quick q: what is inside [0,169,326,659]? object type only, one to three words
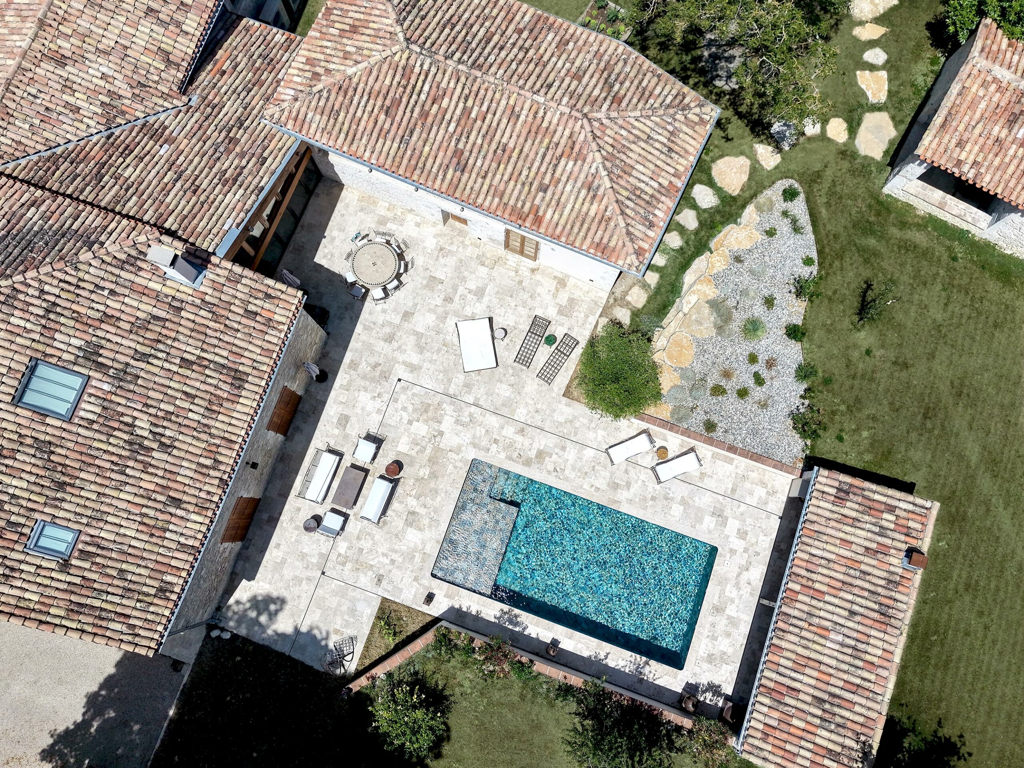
house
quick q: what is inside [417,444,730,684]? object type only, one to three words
swimming pool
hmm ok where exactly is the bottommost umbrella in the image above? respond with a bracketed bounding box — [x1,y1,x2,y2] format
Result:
[304,360,328,383]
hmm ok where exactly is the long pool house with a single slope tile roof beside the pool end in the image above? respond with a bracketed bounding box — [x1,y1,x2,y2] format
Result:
[730,464,942,768]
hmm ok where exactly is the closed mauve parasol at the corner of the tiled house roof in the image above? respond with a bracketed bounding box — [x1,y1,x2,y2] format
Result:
[285,271,310,297]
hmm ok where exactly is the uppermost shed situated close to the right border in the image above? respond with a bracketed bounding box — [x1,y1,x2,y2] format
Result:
[884,18,1024,256]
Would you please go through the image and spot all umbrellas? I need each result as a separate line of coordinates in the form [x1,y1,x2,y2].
[304,360,328,383]
[285,271,310,297]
